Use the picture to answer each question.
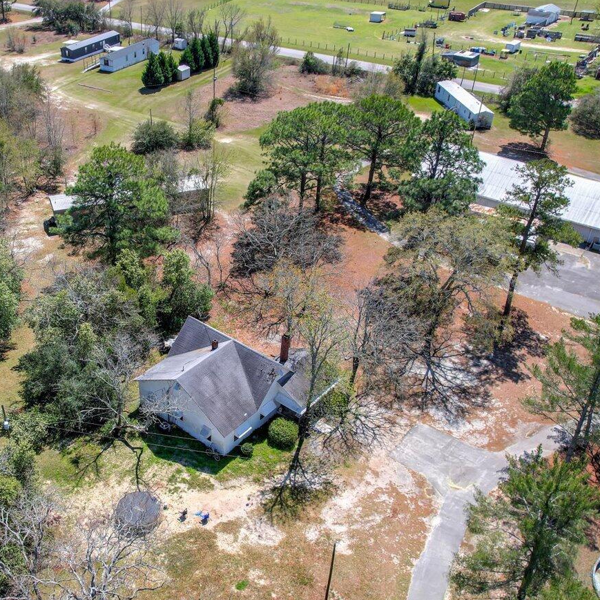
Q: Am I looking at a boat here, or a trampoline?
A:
trampoline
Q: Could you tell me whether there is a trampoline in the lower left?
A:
Yes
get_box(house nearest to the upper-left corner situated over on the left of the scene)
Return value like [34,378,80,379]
[60,32,113,62]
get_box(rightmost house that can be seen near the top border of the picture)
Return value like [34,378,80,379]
[529,3,564,24]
